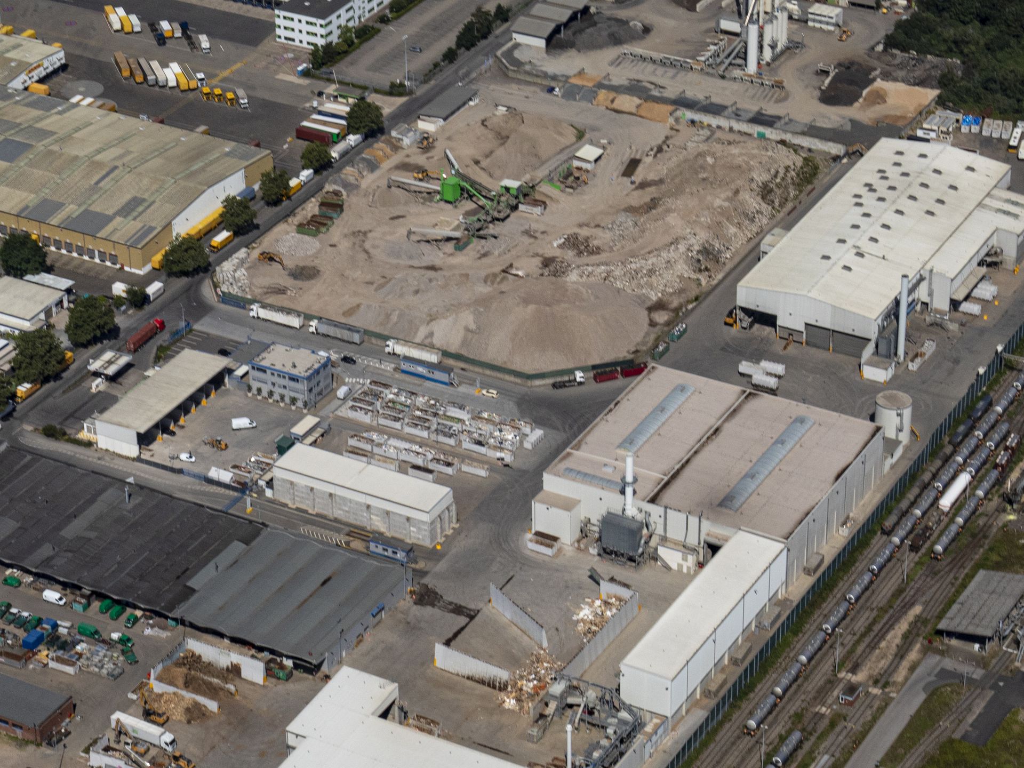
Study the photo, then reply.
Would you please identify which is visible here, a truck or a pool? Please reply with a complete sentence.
Visible in the photo is a truck.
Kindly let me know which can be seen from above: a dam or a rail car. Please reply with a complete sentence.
The one in the frame is a rail car.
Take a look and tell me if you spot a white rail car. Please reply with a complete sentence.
Yes, a white rail car appears in the view.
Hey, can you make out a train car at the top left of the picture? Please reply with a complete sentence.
No, I can find no train car at the top left of the picture.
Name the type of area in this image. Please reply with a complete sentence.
This looks like an industrial area.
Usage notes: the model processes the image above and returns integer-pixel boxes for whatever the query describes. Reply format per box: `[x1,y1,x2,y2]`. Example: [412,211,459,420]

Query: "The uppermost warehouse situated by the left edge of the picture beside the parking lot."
[0,87,270,274]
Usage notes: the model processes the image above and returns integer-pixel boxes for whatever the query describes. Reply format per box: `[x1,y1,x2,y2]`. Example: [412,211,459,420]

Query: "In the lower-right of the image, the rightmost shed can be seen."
[937,568,1020,656]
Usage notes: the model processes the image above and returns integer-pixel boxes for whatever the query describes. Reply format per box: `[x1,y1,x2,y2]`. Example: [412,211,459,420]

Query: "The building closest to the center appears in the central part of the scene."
[401,354,459,383]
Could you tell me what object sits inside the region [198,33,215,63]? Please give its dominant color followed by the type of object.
white vehicle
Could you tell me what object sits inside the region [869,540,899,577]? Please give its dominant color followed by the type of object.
gray rail car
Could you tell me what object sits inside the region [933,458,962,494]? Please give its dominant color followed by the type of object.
gray rail car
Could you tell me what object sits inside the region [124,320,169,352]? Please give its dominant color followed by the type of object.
red truck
